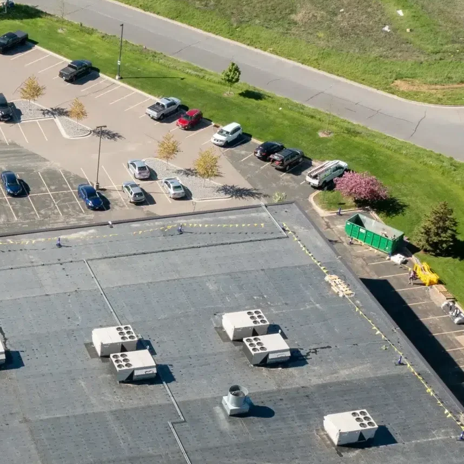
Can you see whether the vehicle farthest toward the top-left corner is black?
Yes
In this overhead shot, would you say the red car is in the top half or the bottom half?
top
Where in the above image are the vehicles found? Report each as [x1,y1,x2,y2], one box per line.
[144,98,182,120]
[253,143,285,162]
[0,93,13,119]
[125,161,153,183]
[210,121,245,146]
[0,31,28,51]
[269,149,306,171]
[77,187,104,211]
[306,162,345,187]
[58,56,94,81]
[160,179,188,202]
[0,174,23,199]
[174,106,206,130]
[121,183,148,207]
